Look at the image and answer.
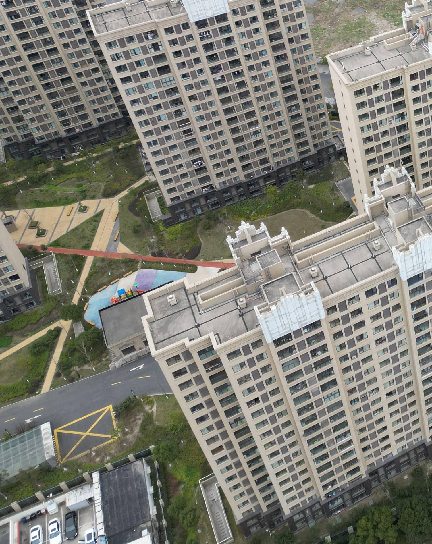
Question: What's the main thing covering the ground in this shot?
buildings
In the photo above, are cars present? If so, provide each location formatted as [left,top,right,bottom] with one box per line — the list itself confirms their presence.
[81,525,100,544]
[46,520,64,544]
[63,515,79,542]
[28,527,43,544]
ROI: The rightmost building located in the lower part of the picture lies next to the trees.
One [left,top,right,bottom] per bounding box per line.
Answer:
[139,167,432,539]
